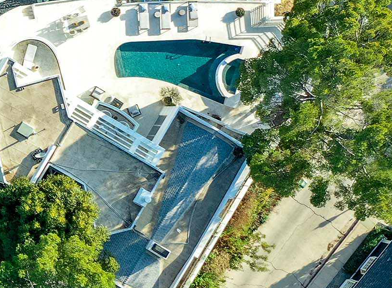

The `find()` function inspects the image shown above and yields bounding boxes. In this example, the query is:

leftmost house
[0,35,252,288]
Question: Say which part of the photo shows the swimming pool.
top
